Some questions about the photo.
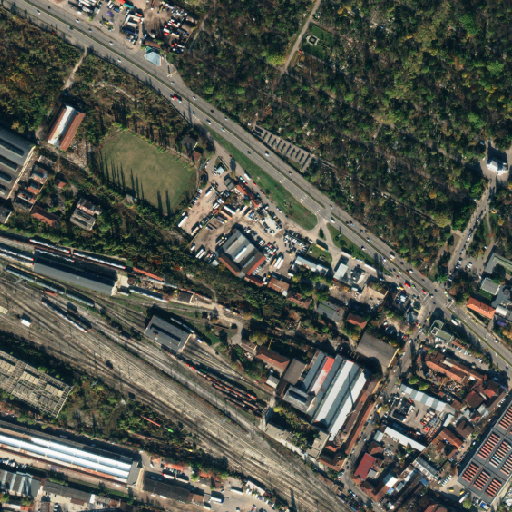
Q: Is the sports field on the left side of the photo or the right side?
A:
left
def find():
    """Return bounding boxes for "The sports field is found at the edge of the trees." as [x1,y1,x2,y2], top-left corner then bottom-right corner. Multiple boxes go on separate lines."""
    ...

[100,128,201,216]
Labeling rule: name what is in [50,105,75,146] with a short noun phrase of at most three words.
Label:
shed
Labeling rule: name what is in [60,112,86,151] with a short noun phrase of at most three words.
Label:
shed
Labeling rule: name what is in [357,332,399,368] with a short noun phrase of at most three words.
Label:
building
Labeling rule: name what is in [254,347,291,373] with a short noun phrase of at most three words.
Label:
house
